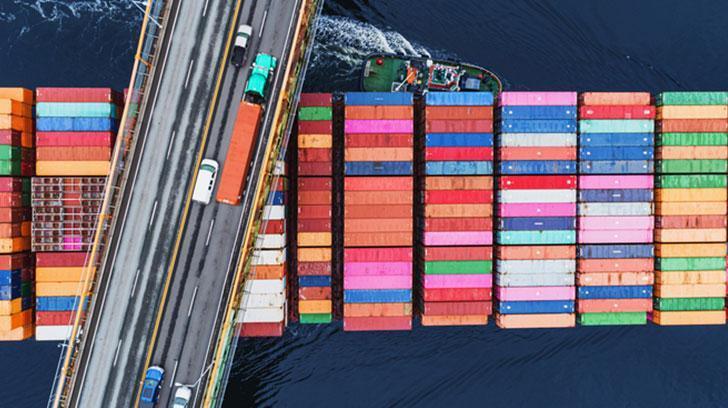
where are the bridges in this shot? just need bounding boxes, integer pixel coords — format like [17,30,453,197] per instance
[47,0,325,408]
